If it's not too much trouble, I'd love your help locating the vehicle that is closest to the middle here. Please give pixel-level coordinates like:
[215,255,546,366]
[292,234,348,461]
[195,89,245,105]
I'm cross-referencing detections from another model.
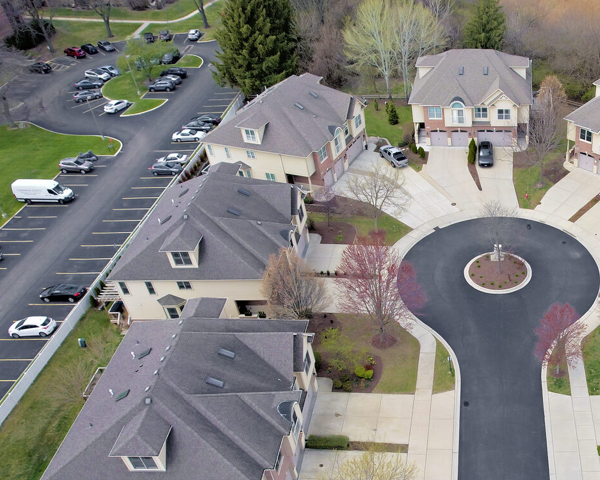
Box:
[380,145,408,164]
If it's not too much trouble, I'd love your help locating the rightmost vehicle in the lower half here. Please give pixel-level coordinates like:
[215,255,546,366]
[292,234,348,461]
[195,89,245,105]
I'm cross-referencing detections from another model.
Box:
[33,281,87,302]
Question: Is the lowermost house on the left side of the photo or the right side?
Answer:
left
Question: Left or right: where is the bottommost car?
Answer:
left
